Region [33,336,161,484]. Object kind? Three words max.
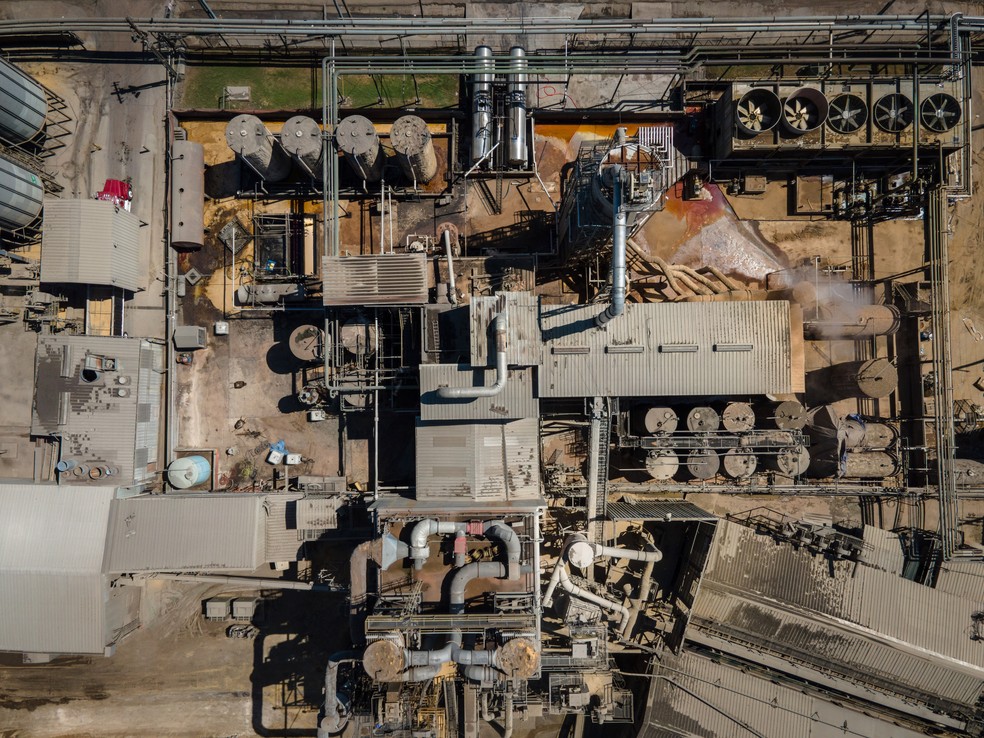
building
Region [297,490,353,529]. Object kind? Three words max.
shed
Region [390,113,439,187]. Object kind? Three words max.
storage tank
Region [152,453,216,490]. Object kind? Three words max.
water tank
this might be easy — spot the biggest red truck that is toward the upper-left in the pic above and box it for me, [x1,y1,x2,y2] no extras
[86,176,137,209]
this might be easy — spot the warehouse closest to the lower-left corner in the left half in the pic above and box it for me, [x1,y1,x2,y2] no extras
[0,475,148,656]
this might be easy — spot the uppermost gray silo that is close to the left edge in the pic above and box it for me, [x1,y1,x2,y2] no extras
[0,54,76,156]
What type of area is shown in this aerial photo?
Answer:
industrial area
